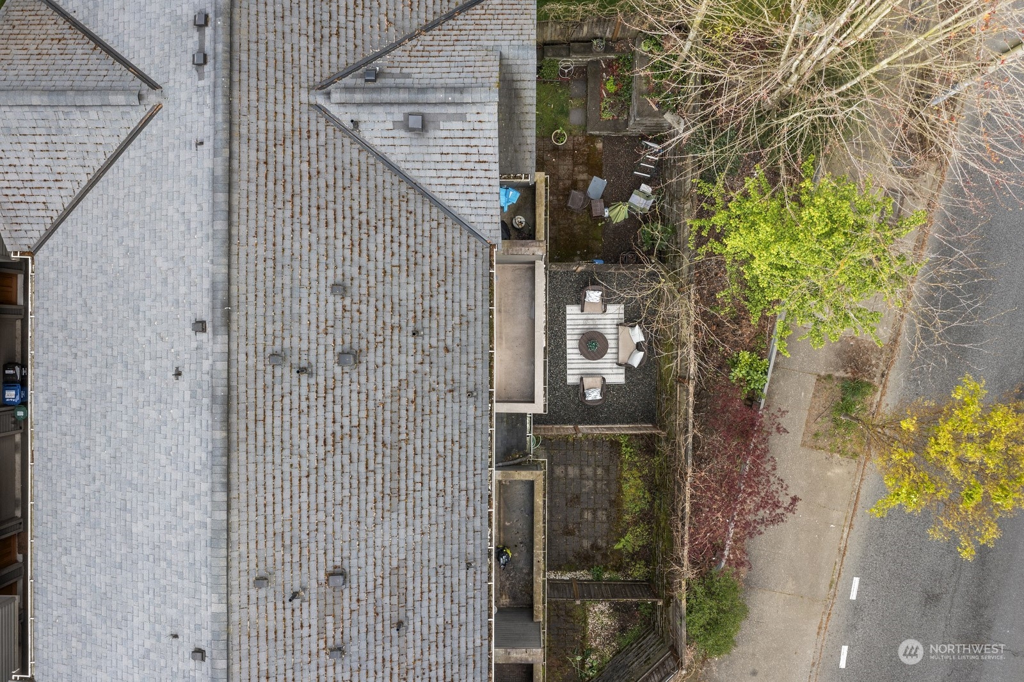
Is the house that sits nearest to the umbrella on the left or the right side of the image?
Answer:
left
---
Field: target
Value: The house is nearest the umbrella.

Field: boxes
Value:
[0,0,548,682]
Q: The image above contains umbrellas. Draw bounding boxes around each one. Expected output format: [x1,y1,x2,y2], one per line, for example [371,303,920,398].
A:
[604,202,626,223]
